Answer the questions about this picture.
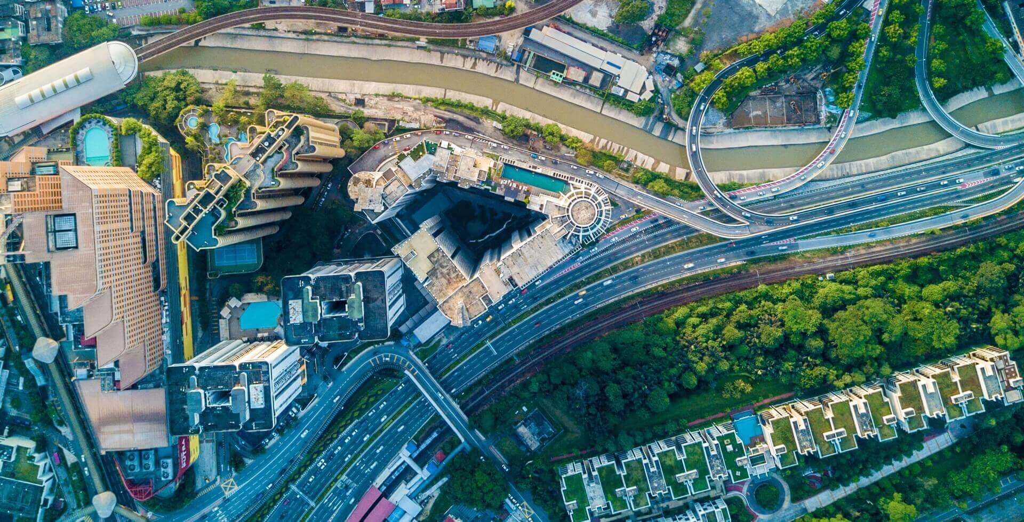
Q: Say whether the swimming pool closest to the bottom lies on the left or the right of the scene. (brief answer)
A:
right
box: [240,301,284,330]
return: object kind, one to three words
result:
swimming pool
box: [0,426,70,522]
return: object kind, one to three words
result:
building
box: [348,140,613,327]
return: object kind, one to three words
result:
building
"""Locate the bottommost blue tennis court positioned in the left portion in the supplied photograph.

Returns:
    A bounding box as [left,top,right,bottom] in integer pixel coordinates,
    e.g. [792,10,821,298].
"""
[208,238,263,278]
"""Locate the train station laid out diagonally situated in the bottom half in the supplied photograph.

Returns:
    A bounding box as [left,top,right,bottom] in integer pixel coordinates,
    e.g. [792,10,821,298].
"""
[344,441,469,522]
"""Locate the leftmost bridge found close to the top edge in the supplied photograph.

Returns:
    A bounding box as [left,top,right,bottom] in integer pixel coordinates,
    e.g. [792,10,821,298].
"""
[134,0,585,62]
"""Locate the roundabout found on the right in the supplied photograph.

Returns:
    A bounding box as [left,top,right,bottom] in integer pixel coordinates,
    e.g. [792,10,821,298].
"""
[744,475,791,518]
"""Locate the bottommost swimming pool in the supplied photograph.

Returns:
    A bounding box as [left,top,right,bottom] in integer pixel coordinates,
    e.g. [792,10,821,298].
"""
[731,409,762,445]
